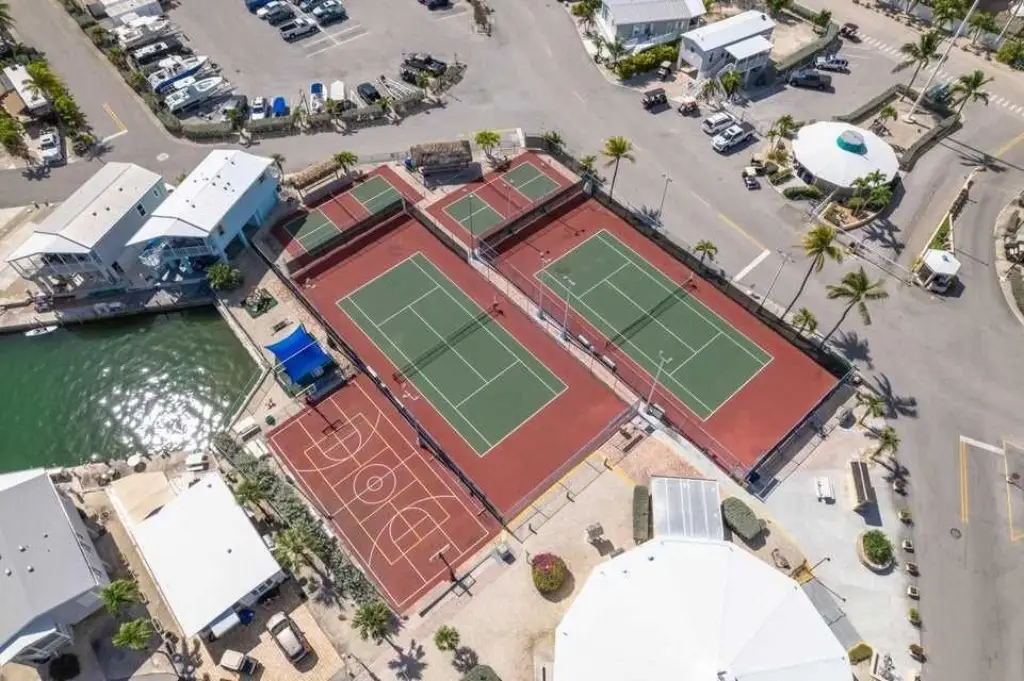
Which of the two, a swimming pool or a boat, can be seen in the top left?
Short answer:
boat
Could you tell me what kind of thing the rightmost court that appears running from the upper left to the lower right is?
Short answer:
tennis court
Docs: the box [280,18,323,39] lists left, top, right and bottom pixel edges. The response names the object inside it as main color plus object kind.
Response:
gray truck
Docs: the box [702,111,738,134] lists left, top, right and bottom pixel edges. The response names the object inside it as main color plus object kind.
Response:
white car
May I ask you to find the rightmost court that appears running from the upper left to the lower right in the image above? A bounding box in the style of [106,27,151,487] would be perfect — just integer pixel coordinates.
[482,187,840,475]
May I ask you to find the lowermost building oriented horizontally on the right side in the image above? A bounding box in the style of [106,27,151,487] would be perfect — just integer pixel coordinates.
[552,538,854,681]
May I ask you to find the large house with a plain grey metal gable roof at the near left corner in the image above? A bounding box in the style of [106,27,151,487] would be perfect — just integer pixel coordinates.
[0,452,120,681]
